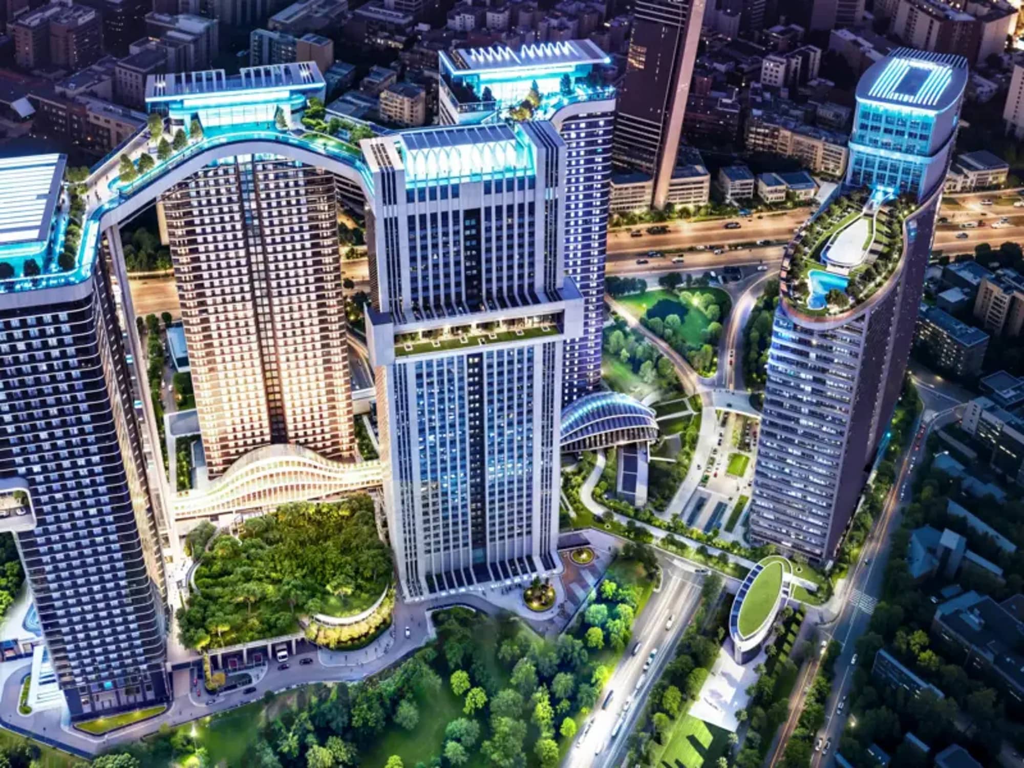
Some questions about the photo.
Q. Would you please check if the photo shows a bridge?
Yes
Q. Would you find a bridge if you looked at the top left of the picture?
Yes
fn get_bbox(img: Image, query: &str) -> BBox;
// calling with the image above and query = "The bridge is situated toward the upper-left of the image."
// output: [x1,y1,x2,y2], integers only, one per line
[80,115,372,249]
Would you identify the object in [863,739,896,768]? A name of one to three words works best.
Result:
building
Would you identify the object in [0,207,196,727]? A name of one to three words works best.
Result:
building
